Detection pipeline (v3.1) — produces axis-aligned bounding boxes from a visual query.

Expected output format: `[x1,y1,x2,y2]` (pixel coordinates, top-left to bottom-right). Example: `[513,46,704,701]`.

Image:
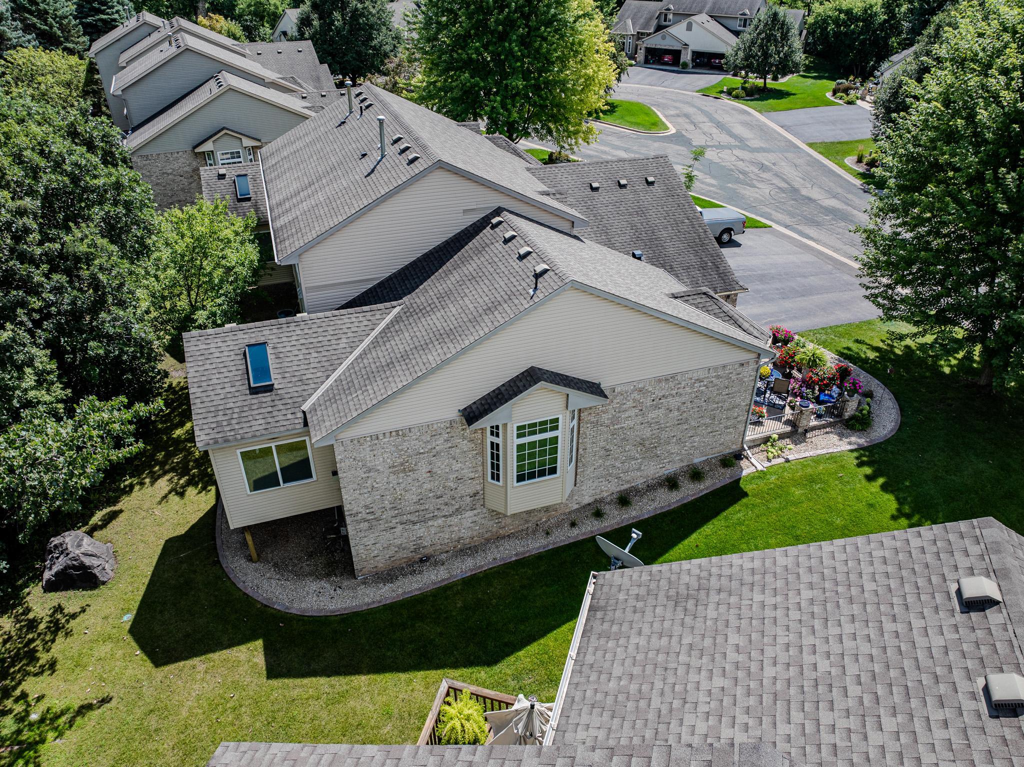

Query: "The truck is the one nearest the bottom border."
[696,204,748,245]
